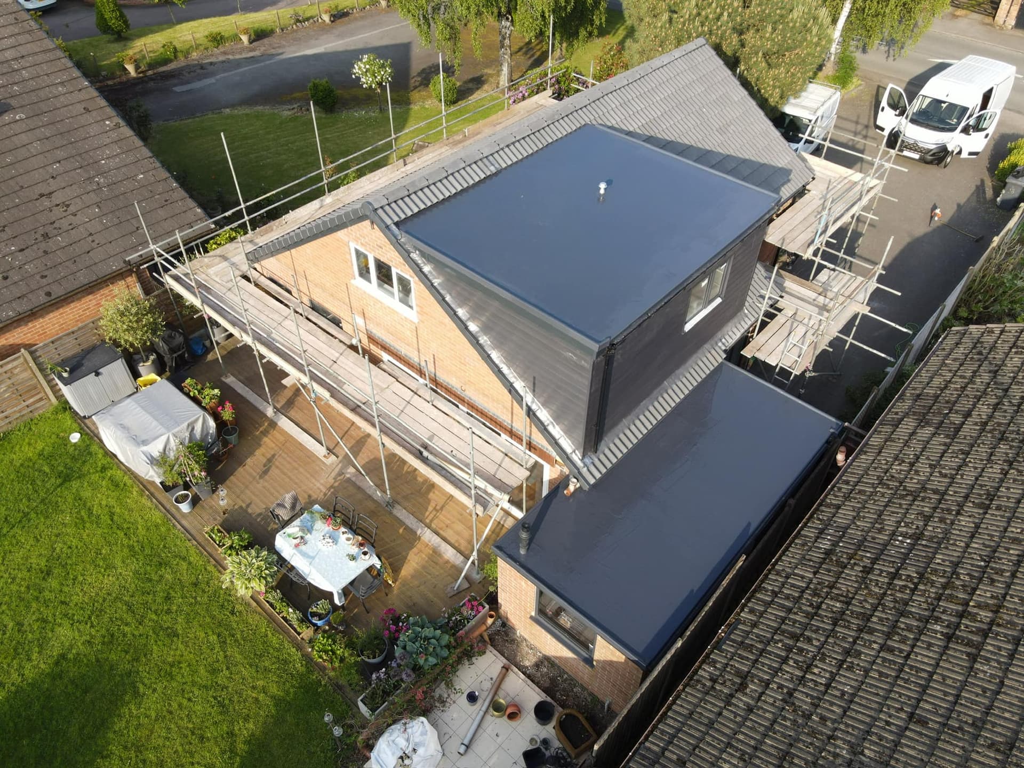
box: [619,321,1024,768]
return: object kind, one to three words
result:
house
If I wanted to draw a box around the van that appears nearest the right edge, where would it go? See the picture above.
[869,52,1016,172]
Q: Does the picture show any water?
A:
No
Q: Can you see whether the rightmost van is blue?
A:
No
